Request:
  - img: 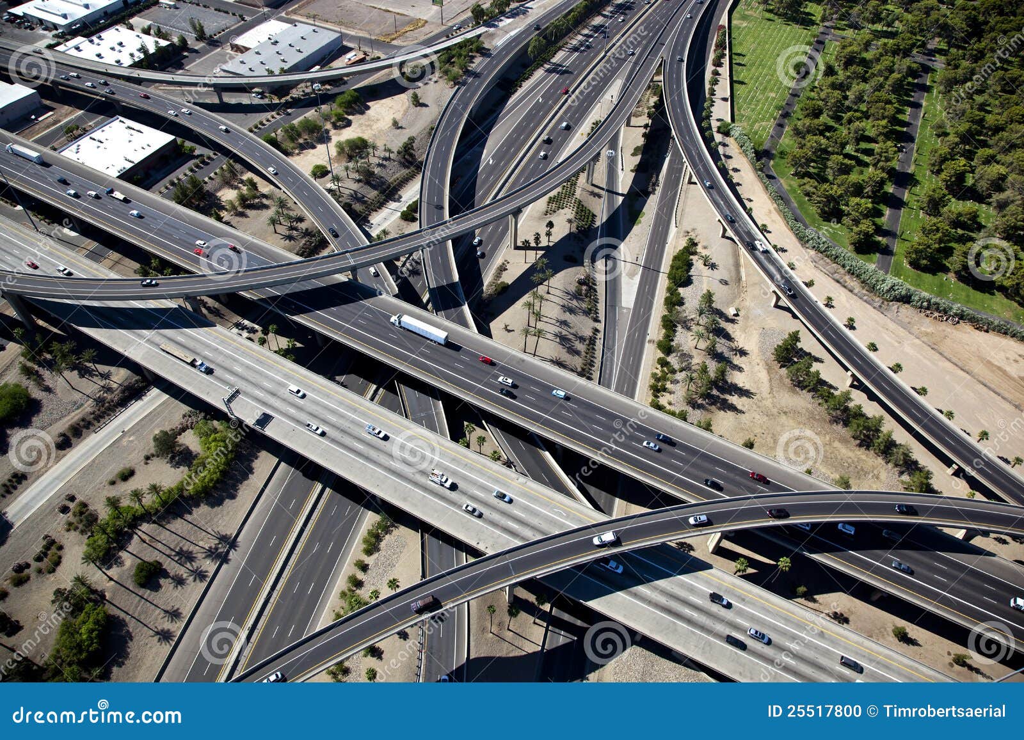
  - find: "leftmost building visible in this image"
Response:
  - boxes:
[0,81,44,127]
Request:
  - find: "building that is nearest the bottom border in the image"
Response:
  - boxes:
[59,115,178,185]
